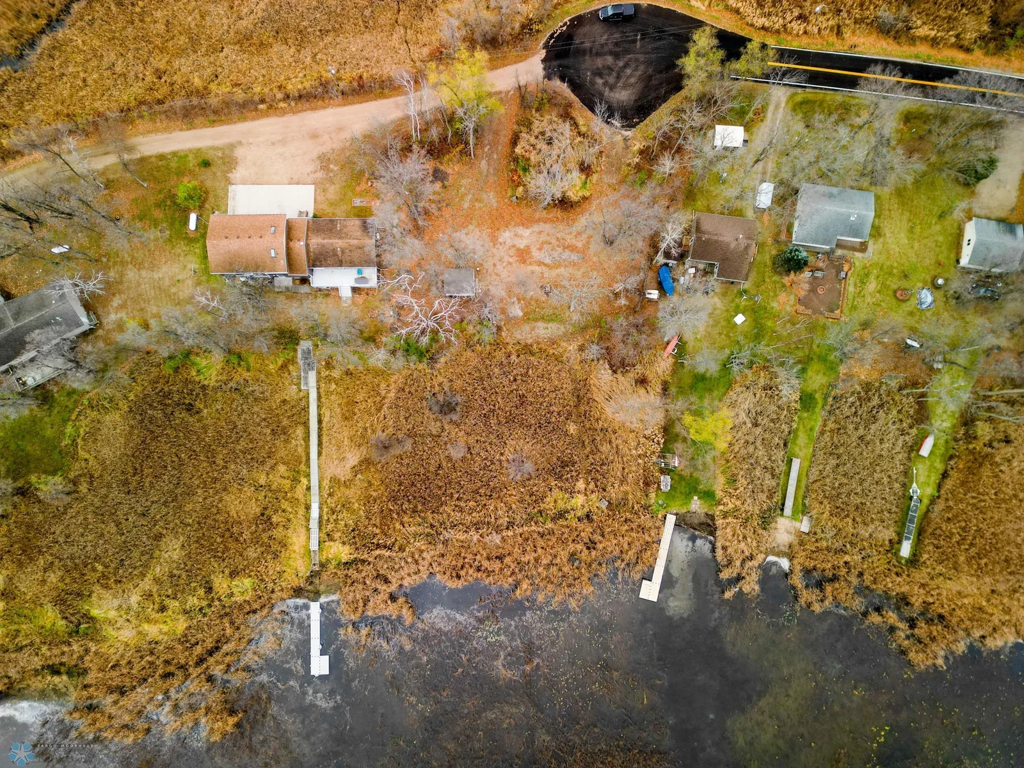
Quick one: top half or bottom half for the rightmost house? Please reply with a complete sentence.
Seen from above, the rightmost house lies in the top half of the view.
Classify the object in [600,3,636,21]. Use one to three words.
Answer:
vehicle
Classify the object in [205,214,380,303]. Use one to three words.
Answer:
house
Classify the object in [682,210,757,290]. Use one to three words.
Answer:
house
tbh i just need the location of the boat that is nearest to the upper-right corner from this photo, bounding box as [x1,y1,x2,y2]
[906,335,921,348]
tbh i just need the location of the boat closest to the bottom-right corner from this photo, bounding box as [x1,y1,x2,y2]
[920,434,935,457]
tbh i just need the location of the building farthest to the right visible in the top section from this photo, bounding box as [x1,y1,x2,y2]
[956,217,1024,274]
